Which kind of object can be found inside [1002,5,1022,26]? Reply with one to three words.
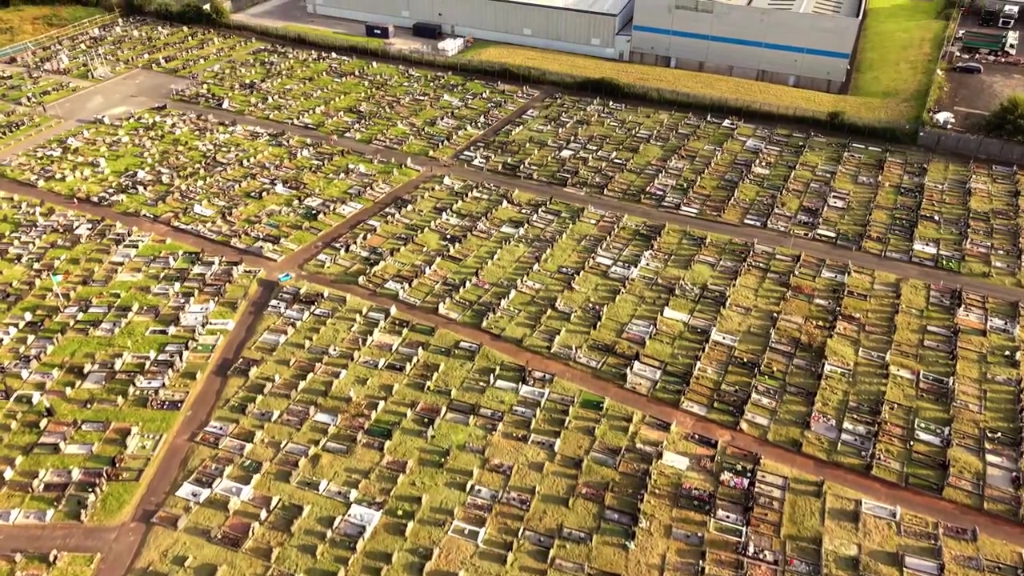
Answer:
vehicle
